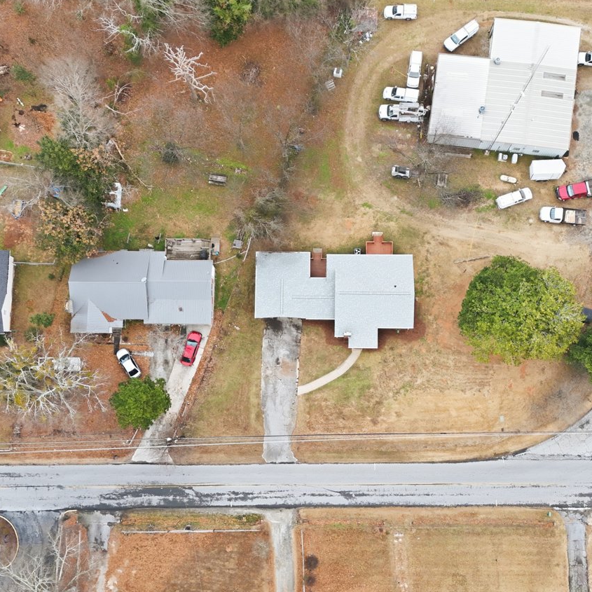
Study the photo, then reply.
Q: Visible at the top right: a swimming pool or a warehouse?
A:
warehouse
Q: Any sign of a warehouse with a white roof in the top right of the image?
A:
Yes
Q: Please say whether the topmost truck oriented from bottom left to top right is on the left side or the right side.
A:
right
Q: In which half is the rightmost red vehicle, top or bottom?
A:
top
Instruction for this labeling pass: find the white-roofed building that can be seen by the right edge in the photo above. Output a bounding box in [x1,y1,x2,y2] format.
[427,18,581,158]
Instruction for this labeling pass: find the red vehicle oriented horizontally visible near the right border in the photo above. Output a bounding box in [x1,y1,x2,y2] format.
[554,179,592,200]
